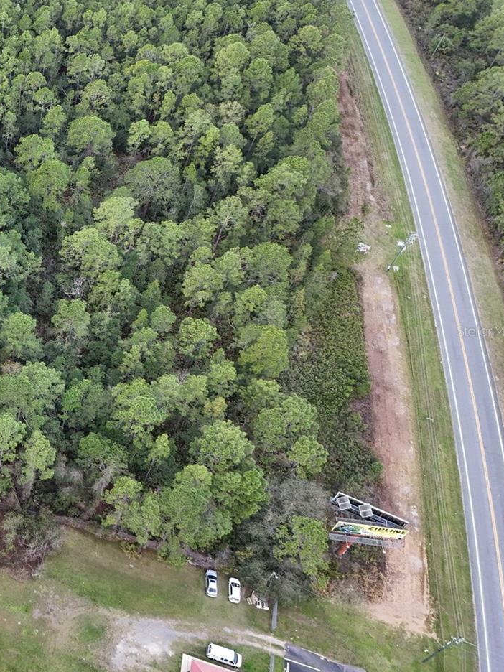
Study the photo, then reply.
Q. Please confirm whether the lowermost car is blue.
No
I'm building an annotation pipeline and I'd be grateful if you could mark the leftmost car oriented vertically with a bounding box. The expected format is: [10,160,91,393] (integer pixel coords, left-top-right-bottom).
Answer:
[203,569,219,600]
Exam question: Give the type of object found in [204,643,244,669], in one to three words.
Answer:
car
